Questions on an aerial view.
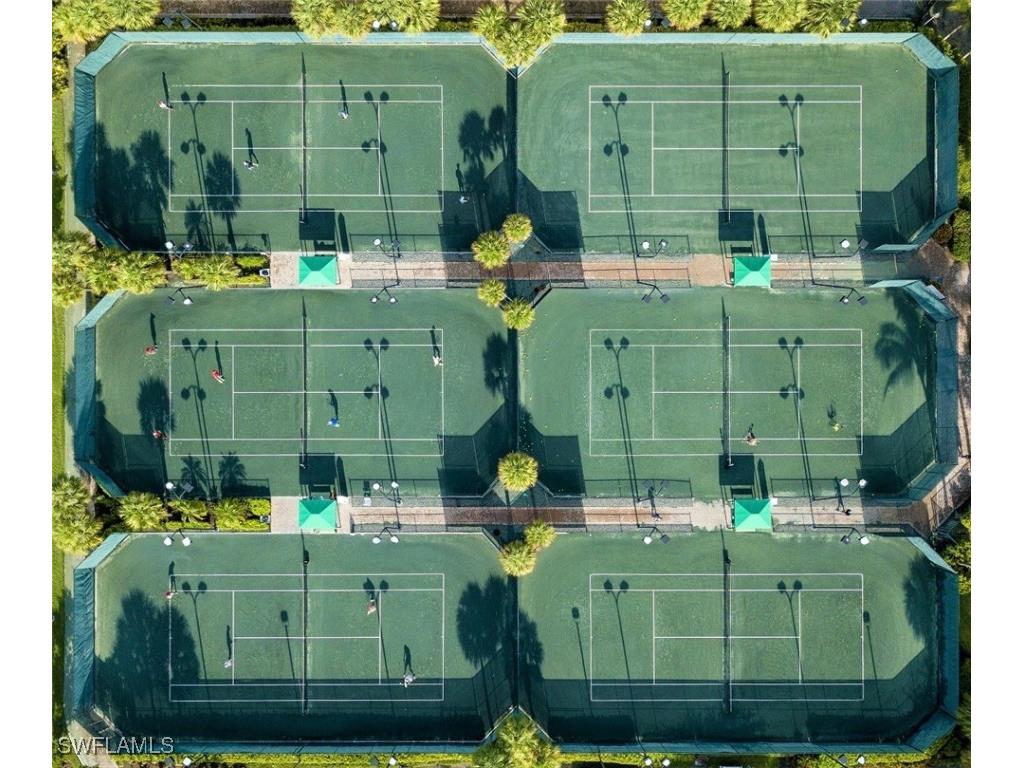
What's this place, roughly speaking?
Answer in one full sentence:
The picture captures a sports ground.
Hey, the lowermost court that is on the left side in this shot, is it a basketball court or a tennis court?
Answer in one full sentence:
From above, the lowermost court that is on the left side can be identified as a tennis court.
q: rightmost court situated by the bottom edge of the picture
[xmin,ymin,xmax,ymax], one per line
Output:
[516,533,936,741]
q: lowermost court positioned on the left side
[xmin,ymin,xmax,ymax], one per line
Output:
[95,533,516,741]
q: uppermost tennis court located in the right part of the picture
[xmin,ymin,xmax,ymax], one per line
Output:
[516,44,936,252]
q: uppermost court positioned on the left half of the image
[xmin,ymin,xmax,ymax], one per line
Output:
[95,44,516,252]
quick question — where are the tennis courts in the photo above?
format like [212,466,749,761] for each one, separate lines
[516,288,936,497]
[95,288,516,497]
[95,533,516,741]
[516,533,936,741]
[95,44,516,252]
[516,44,936,252]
